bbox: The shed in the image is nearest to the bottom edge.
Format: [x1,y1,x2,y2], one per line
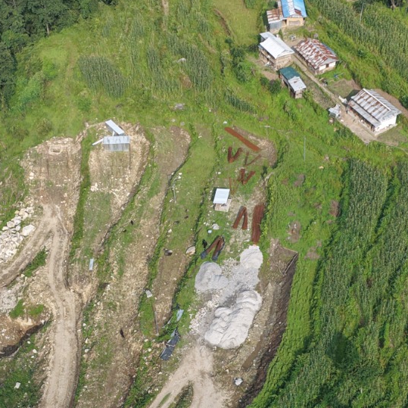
[211,188,229,214]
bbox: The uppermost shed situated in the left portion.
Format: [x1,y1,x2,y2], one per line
[103,136,129,151]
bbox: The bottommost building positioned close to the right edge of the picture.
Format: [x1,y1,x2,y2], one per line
[351,88,401,129]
